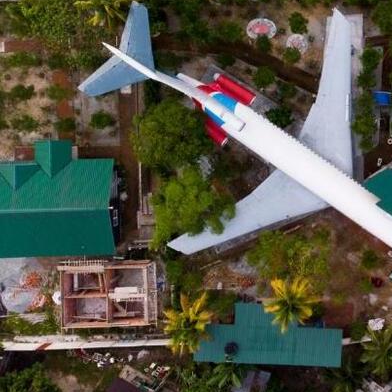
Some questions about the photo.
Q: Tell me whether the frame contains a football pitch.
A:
No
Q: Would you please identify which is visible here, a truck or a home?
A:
home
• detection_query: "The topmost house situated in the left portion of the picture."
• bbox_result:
[0,139,122,256]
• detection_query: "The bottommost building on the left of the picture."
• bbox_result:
[99,365,161,392]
